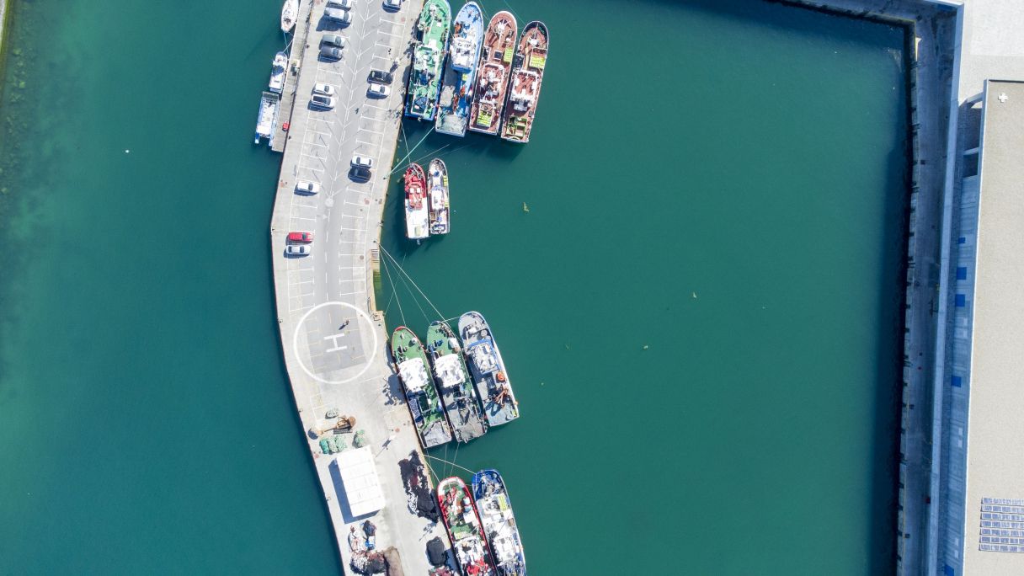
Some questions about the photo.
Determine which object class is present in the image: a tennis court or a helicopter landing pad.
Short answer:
helicopter landing pad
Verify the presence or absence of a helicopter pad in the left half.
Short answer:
Yes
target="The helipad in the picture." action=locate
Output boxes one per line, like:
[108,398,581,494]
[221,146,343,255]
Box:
[294,302,377,384]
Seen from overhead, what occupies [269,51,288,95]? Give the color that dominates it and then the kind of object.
white boat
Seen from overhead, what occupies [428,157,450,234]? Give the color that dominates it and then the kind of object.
white boat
